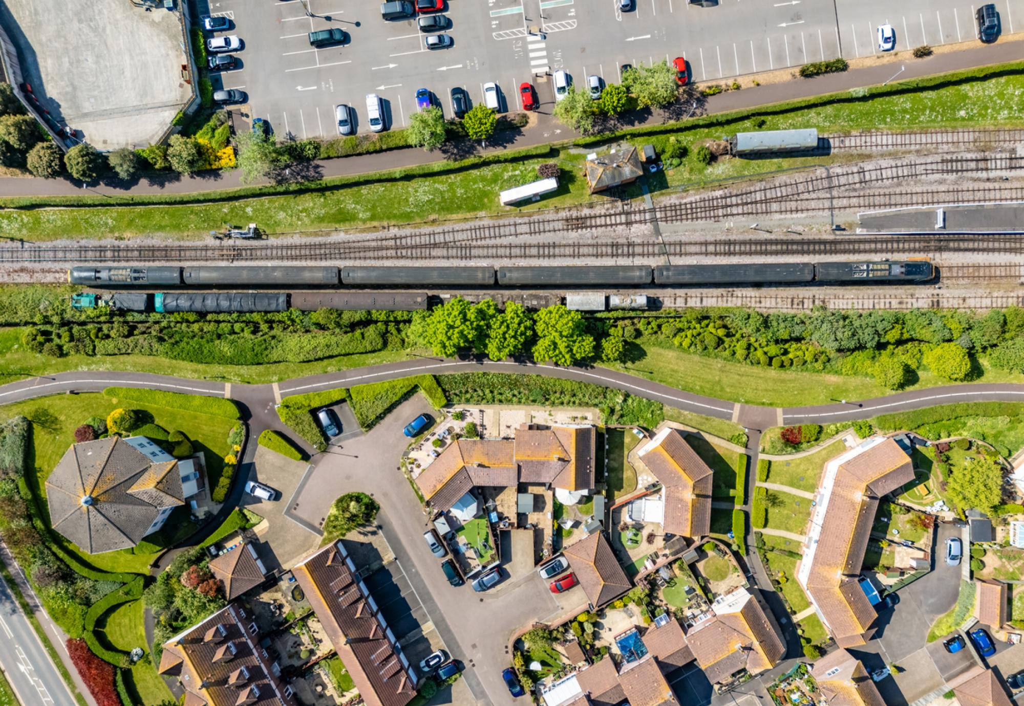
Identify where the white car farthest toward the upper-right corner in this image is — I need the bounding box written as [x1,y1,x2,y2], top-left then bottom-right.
[877,22,895,52]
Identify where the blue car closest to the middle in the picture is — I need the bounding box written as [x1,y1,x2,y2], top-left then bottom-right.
[402,412,430,439]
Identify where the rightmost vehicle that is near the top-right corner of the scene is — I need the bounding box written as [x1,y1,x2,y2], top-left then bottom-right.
[980,2,1000,43]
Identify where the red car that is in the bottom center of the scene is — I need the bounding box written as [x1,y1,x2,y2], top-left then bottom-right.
[548,571,579,594]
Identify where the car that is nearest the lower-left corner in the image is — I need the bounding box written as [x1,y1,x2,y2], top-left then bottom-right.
[244,480,278,503]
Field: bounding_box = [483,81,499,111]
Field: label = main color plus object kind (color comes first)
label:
white car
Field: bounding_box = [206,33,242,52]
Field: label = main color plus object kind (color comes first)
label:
white car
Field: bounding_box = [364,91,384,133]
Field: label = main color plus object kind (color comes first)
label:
white vehicle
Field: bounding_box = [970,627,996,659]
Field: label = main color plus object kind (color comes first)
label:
blue car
